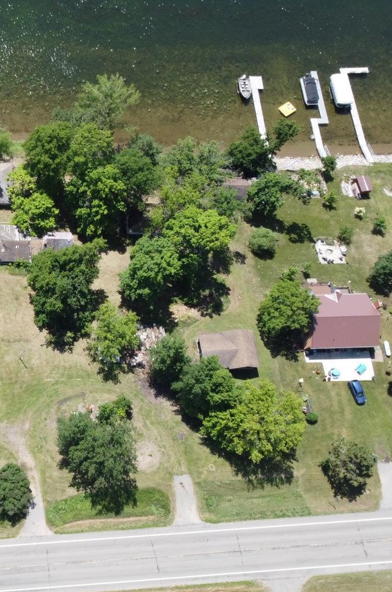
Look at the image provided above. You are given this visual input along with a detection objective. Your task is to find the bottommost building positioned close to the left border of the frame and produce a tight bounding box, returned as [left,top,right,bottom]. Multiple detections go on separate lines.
[0,225,76,268]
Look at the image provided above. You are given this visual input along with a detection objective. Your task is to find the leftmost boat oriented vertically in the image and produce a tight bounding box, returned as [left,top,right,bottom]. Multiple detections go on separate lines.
[240,74,252,100]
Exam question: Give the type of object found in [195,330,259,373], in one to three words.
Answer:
building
